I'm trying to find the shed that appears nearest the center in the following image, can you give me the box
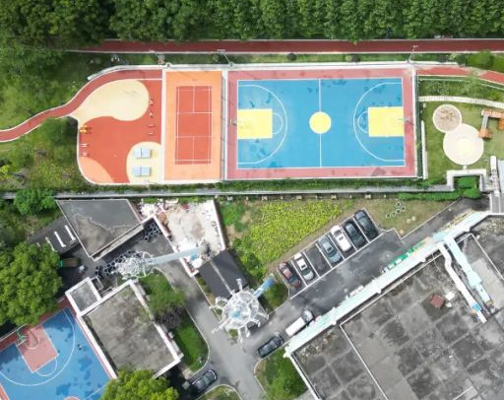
[199,250,252,299]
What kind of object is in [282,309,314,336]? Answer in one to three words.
truck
